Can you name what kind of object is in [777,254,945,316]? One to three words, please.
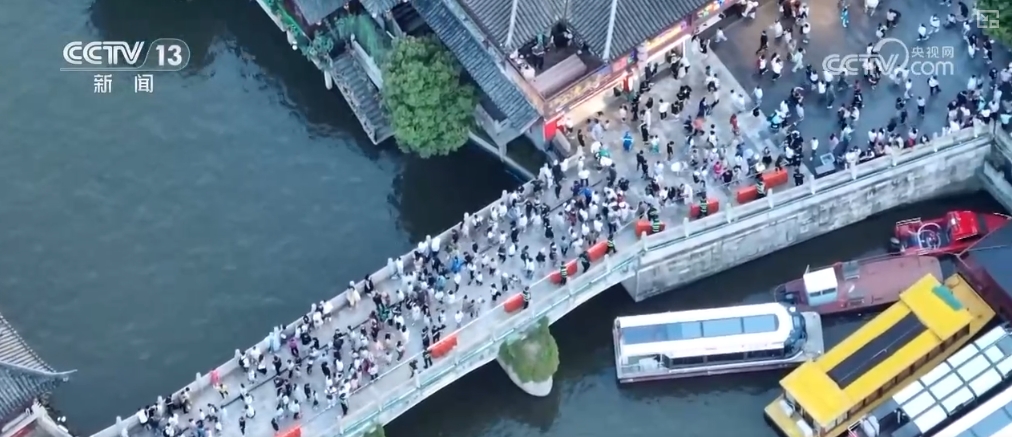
vessel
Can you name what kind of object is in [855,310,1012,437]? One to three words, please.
boat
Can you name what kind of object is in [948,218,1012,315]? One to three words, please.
vessel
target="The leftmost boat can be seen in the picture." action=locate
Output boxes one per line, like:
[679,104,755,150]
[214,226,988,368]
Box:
[611,302,822,383]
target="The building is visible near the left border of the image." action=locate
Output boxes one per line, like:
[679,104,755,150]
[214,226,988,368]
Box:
[0,315,80,437]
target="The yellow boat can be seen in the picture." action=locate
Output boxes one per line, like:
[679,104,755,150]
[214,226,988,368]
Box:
[763,272,1003,437]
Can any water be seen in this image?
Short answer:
Yes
